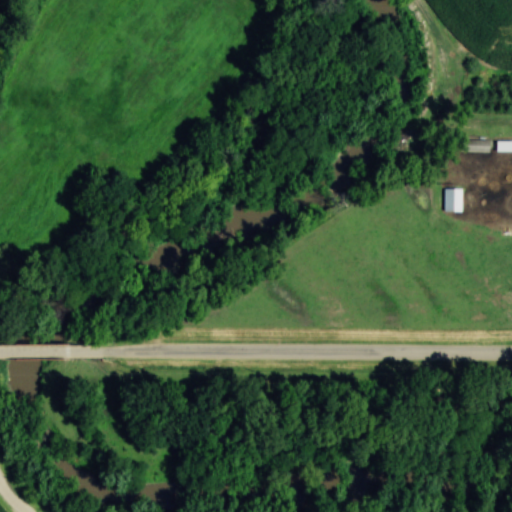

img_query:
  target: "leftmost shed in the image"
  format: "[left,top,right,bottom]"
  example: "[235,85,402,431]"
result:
[446,188,464,213]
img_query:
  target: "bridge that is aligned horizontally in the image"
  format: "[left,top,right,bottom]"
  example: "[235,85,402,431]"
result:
[8,344,103,360]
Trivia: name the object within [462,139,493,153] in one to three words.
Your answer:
barn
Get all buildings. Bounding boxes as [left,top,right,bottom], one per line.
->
[462,139,493,153]
[446,188,464,213]
[498,140,512,153]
